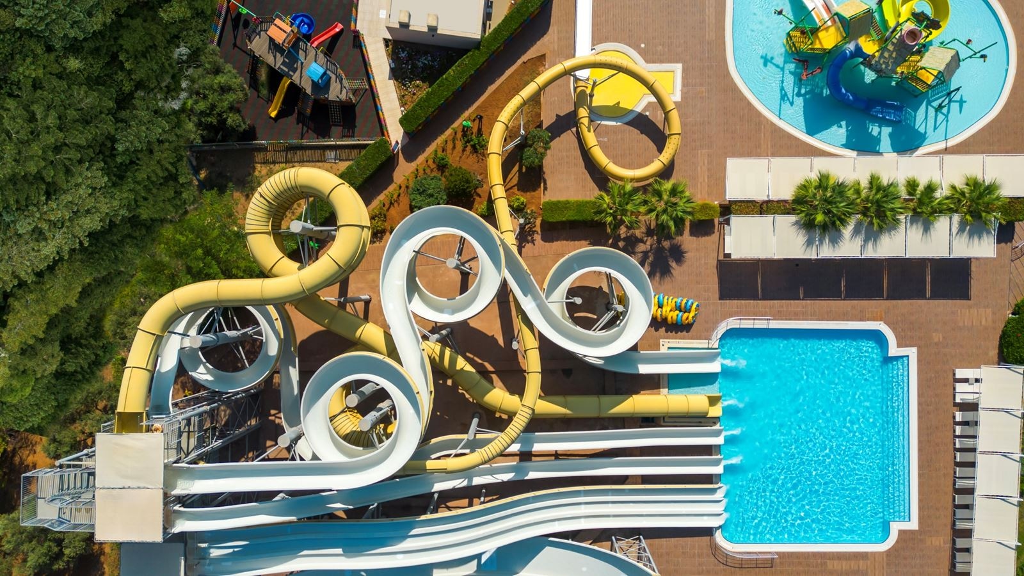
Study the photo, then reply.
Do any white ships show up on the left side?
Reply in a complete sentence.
No, there is no white ship on the left side.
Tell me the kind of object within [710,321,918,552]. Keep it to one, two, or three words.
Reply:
swimming pool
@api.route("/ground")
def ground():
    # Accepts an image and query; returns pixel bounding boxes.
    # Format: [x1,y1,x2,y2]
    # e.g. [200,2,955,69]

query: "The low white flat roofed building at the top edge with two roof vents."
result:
[384,0,493,52]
